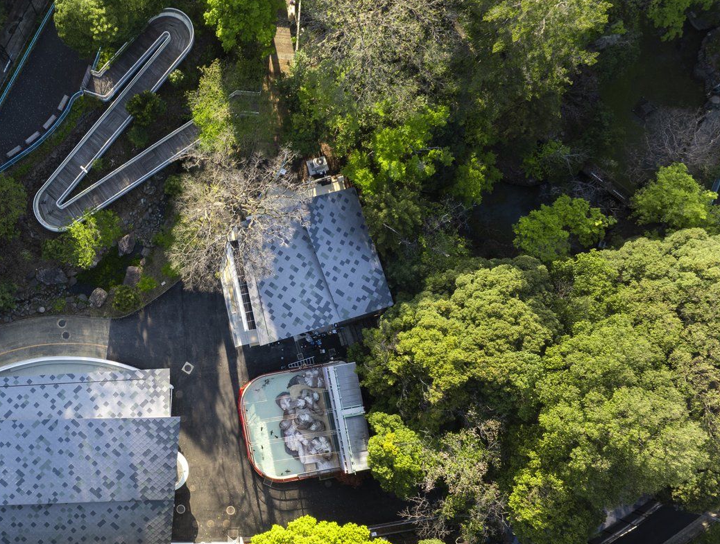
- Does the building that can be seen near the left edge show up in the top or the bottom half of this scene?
bottom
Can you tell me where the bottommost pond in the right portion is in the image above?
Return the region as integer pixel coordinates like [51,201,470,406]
[463,178,557,269]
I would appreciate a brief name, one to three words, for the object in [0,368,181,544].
building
